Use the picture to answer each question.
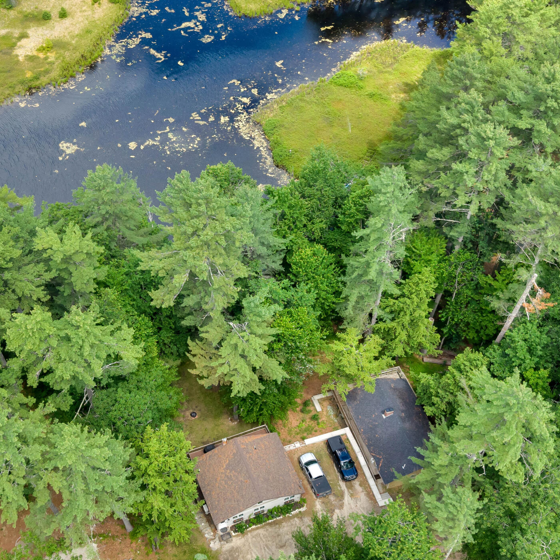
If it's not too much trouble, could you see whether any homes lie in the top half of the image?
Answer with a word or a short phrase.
No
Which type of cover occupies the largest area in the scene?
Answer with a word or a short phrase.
trees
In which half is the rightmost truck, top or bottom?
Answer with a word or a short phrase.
bottom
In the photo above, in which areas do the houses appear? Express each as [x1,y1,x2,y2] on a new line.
[184,427,305,538]
[332,368,451,499]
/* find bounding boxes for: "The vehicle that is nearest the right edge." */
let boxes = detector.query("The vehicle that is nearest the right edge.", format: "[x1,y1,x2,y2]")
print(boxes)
[324,435,360,484]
